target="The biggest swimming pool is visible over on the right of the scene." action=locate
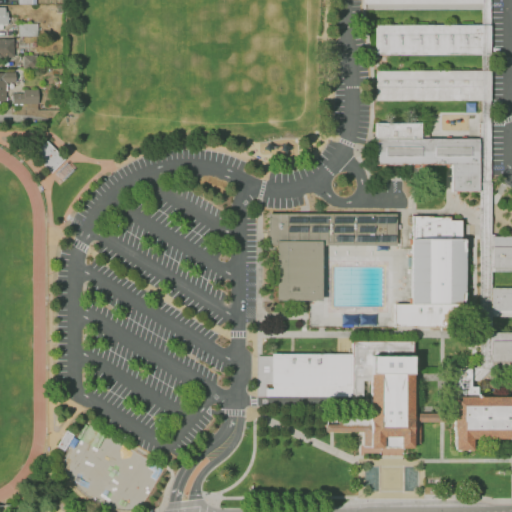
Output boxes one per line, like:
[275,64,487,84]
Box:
[330,263,386,310]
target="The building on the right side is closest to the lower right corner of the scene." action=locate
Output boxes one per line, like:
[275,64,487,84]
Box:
[456,398,512,452]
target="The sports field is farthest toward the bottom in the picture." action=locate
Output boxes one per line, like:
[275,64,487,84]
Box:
[0,164,34,486]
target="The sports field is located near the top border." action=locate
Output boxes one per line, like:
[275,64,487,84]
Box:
[56,0,321,160]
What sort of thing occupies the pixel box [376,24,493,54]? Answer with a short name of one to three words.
building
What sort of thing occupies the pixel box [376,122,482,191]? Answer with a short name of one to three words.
building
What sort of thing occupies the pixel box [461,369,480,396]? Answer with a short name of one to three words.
shed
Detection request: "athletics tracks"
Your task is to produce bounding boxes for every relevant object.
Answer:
[0,146,46,504]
